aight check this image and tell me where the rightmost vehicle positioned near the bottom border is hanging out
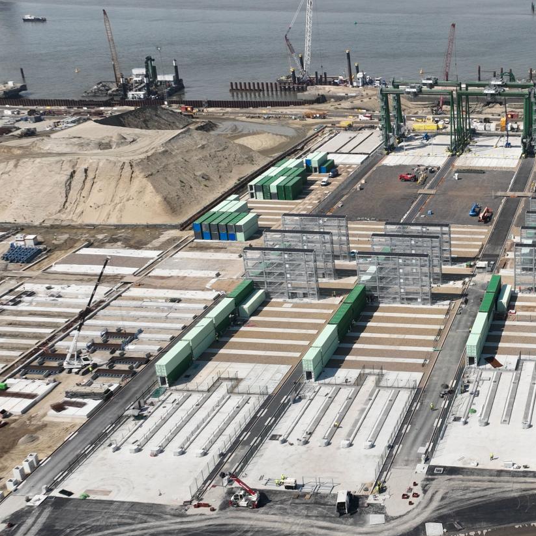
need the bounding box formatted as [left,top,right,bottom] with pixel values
[330,484,355,518]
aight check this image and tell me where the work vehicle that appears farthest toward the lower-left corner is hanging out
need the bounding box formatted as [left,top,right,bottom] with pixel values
[212,466,259,506]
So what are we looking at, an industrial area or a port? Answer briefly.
port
